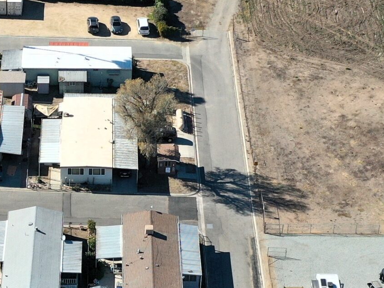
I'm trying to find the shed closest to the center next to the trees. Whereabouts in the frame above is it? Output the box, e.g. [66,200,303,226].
[157,141,178,174]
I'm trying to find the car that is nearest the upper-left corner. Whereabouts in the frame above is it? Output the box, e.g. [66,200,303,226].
[85,16,100,33]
